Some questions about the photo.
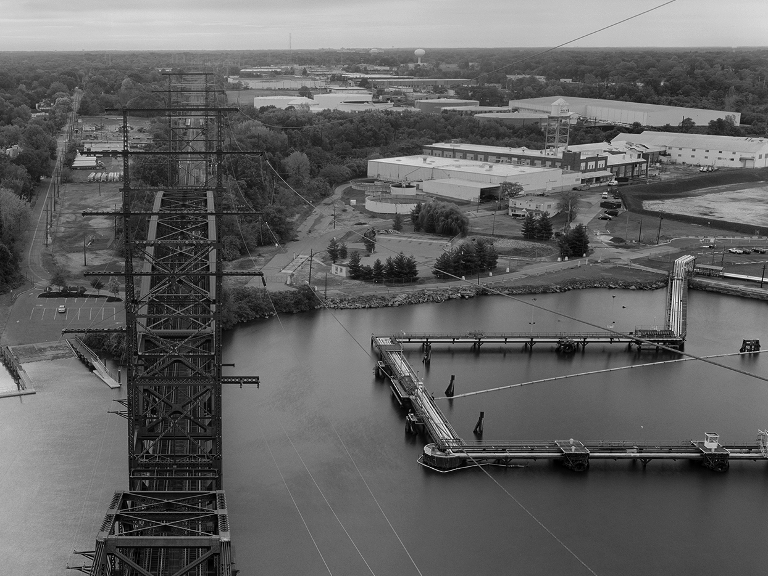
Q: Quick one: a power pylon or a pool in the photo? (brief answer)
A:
power pylon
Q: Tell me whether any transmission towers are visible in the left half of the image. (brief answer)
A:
Yes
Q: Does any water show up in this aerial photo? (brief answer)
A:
Yes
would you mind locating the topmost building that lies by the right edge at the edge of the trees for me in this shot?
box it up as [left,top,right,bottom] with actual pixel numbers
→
[509,97,741,130]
